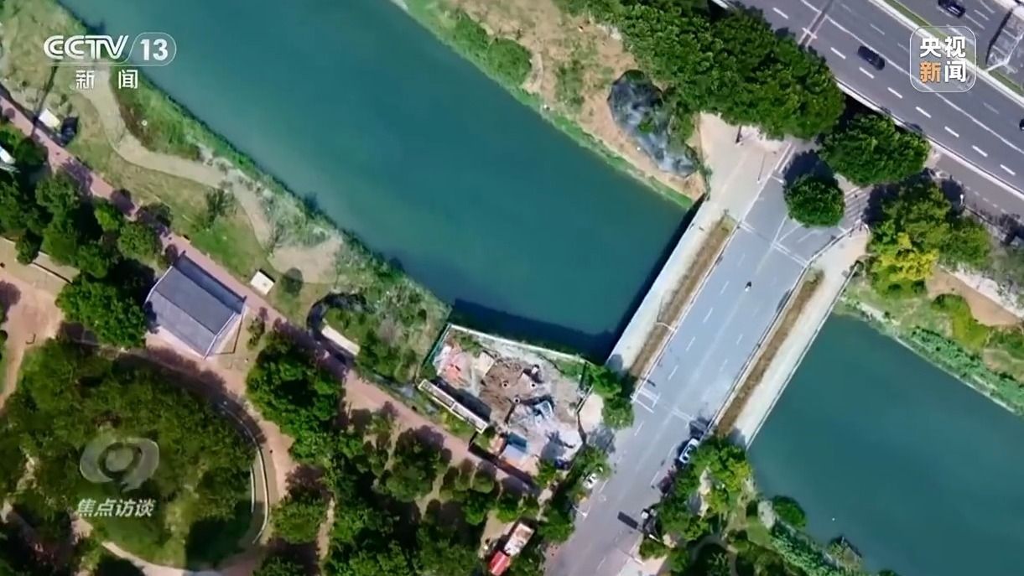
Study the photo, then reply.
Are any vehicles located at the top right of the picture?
Yes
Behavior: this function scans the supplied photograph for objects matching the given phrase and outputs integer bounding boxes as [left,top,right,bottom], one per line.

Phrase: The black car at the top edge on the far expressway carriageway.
[934,0,967,21]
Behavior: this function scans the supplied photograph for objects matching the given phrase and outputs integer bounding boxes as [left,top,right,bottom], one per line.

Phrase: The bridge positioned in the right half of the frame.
[609,199,860,447]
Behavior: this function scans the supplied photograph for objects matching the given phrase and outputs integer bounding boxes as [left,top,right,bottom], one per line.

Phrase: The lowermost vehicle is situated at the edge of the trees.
[493,522,527,571]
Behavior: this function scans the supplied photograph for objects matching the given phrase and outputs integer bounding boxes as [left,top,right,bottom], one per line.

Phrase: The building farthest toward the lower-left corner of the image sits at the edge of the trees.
[144,250,253,359]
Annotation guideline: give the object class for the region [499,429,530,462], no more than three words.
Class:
shed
